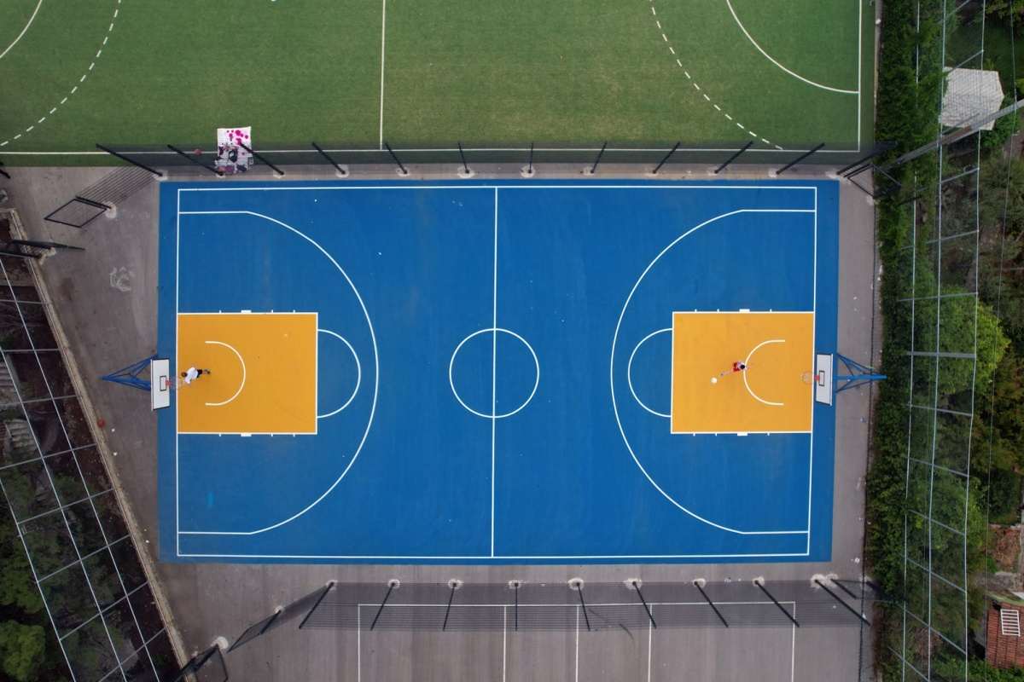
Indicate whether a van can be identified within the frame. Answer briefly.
No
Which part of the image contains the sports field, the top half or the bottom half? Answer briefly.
top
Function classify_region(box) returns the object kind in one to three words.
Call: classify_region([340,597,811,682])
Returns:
sports court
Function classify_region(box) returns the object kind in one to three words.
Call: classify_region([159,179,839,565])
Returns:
basketball court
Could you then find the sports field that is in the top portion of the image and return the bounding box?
[0,0,876,165]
